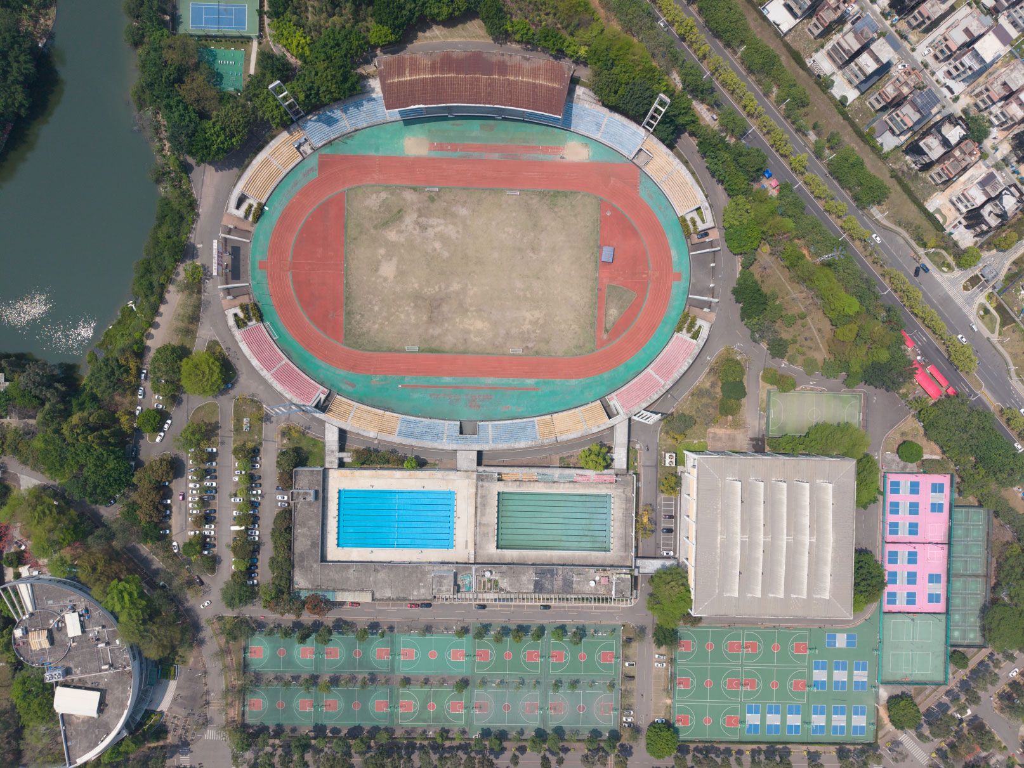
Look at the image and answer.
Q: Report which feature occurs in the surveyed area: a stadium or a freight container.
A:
stadium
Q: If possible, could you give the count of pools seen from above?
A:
2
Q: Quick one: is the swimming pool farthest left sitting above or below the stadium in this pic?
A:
below it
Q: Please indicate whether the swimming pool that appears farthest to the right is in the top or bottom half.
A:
bottom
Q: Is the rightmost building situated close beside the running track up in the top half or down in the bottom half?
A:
bottom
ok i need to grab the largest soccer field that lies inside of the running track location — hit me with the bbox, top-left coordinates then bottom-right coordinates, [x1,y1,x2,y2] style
[342,185,600,355]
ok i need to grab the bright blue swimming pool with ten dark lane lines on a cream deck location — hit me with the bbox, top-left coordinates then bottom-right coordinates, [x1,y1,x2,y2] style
[335,489,459,550]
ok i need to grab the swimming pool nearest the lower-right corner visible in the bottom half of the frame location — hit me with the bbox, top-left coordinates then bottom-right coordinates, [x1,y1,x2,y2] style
[495,491,615,552]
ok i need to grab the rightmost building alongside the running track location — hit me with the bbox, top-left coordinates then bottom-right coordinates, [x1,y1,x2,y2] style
[674,449,857,620]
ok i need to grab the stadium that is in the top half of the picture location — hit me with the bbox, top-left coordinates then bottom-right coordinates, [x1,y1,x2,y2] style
[218,50,723,451]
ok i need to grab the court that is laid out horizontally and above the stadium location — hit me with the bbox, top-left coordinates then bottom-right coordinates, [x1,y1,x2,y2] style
[176,0,260,35]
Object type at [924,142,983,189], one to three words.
house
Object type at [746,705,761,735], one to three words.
sports court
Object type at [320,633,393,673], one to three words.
basketball court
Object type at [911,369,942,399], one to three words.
tent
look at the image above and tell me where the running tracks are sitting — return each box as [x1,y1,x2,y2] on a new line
[252,118,689,421]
